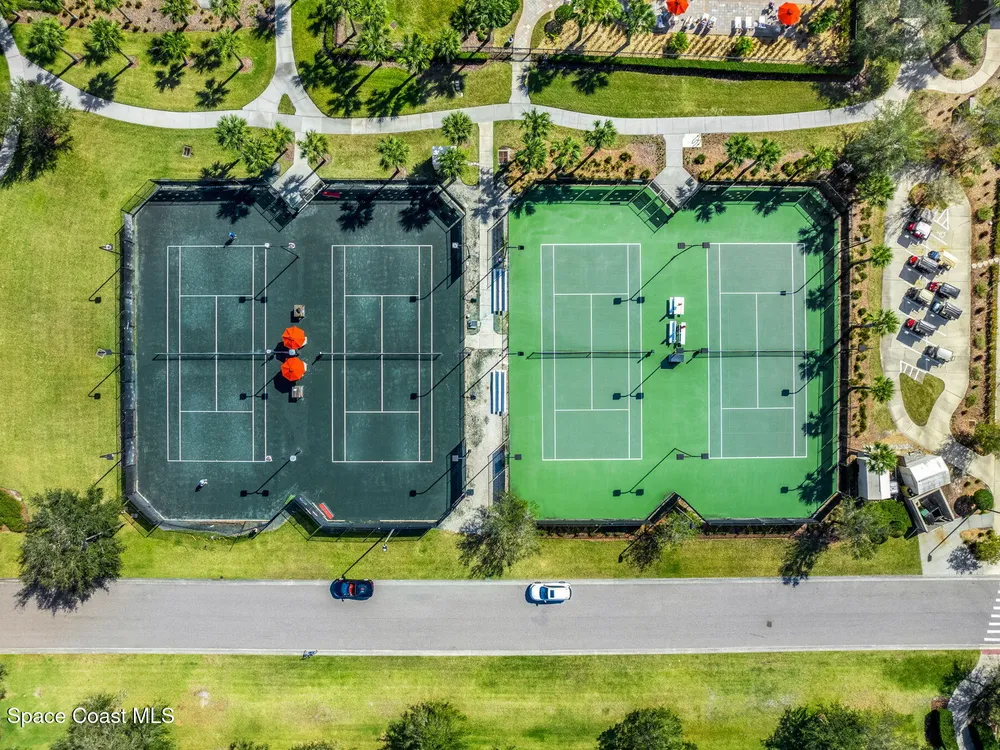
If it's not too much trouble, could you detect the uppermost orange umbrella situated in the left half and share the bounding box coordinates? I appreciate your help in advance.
[282,326,305,349]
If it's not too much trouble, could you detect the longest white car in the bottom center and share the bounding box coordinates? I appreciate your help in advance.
[529,584,571,606]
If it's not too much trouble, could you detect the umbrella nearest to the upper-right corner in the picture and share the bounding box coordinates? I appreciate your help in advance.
[776,2,801,27]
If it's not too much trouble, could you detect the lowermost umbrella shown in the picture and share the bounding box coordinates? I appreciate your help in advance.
[282,357,306,381]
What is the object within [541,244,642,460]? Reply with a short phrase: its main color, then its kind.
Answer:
green tennis court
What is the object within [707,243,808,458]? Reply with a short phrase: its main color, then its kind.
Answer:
green tennis court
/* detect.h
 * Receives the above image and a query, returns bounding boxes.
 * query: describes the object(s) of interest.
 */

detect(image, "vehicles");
[901,286,937,305]
[529,584,571,606]
[901,318,937,337]
[904,255,939,273]
[926,250,959,271]
[919,344,955,361]
[898,221,934,239]
[926,302,961,320]
[926,283,960,301]
[333,583,372,604]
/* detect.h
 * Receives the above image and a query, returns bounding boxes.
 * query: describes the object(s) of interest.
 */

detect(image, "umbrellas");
[282,357,306,381]
[665,0,688,18]
[776,2,801,27]
[282,326,305,349]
